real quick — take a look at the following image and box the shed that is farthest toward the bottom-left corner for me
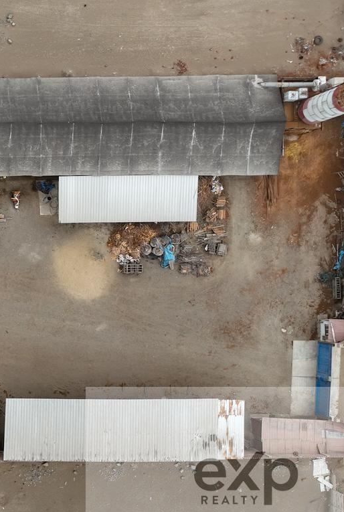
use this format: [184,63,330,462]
[1,398,245,462]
